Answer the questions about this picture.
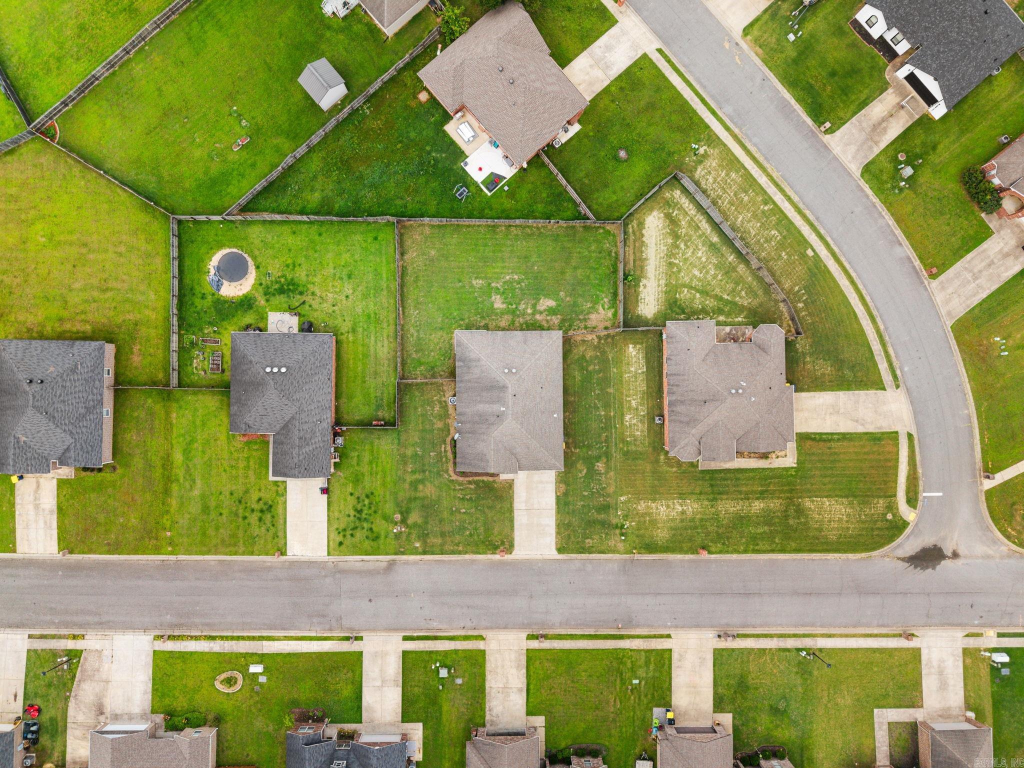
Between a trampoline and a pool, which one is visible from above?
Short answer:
trampoline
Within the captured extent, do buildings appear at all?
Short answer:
Yes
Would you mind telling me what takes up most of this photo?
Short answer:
grass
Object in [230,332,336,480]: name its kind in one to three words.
house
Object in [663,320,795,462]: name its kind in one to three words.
house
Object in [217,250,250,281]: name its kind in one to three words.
trampoline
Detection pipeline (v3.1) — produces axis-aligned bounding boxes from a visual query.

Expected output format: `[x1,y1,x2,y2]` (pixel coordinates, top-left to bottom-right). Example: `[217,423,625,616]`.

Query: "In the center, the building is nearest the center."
[454,330,564,474]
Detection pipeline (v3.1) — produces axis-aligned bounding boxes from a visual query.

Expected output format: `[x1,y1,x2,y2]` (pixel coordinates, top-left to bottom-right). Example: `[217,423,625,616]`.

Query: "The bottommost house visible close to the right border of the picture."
[918,720,993,768]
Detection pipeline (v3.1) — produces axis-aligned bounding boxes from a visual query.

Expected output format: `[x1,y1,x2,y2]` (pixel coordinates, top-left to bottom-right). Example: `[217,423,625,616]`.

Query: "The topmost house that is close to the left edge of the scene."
[0,339,115,474]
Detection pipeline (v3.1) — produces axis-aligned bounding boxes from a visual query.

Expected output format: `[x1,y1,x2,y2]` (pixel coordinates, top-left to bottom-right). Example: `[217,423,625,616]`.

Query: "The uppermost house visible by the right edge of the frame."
[857,0,1024,116]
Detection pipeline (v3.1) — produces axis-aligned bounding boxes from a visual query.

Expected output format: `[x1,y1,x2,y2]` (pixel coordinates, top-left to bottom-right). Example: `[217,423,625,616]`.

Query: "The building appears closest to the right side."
[982,135,1024,224]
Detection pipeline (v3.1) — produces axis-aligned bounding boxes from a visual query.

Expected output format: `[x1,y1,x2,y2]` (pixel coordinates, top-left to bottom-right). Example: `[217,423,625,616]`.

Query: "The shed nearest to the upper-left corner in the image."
[297,57,347,109]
